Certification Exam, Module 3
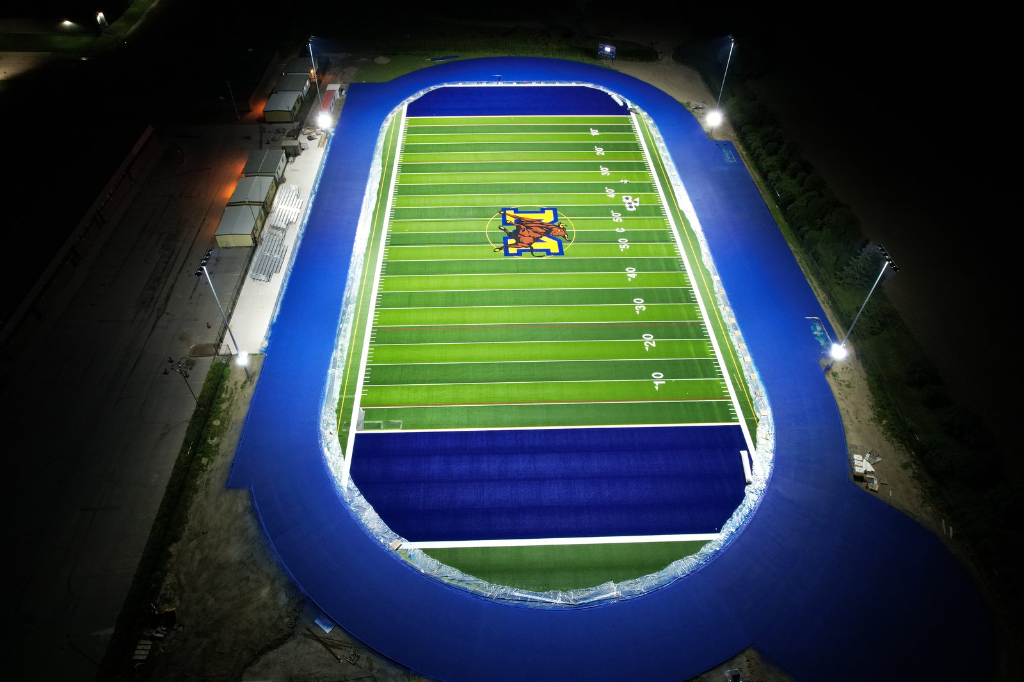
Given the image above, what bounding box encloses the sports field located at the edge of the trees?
[320,81,774,608]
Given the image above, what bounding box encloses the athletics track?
[228,56,994,682]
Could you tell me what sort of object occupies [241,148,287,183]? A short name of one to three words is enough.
building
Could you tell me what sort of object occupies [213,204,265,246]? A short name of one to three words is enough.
building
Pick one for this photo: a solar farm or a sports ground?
sports ground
